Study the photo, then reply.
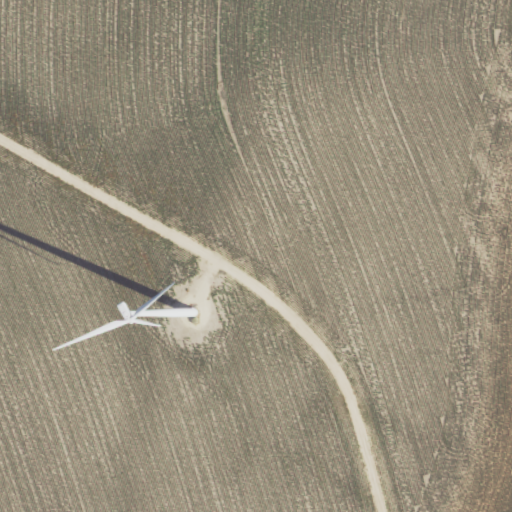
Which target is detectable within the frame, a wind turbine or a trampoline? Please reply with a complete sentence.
There is a wind turbine in the scene.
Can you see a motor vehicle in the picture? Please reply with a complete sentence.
No, the photo shows no motor vehicle.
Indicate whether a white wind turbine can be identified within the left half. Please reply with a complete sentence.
Yes, you'll find a white wind turbine within the left half.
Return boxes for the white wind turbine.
[54,282,198,350]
